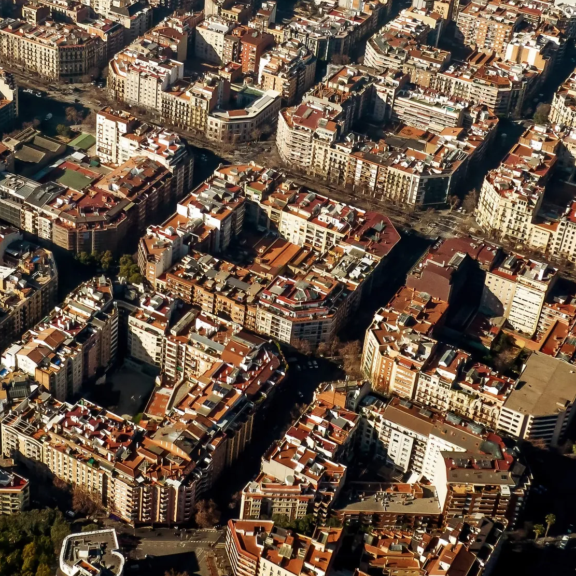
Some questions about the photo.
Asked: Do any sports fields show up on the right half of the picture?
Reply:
No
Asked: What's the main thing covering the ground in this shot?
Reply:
buildings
